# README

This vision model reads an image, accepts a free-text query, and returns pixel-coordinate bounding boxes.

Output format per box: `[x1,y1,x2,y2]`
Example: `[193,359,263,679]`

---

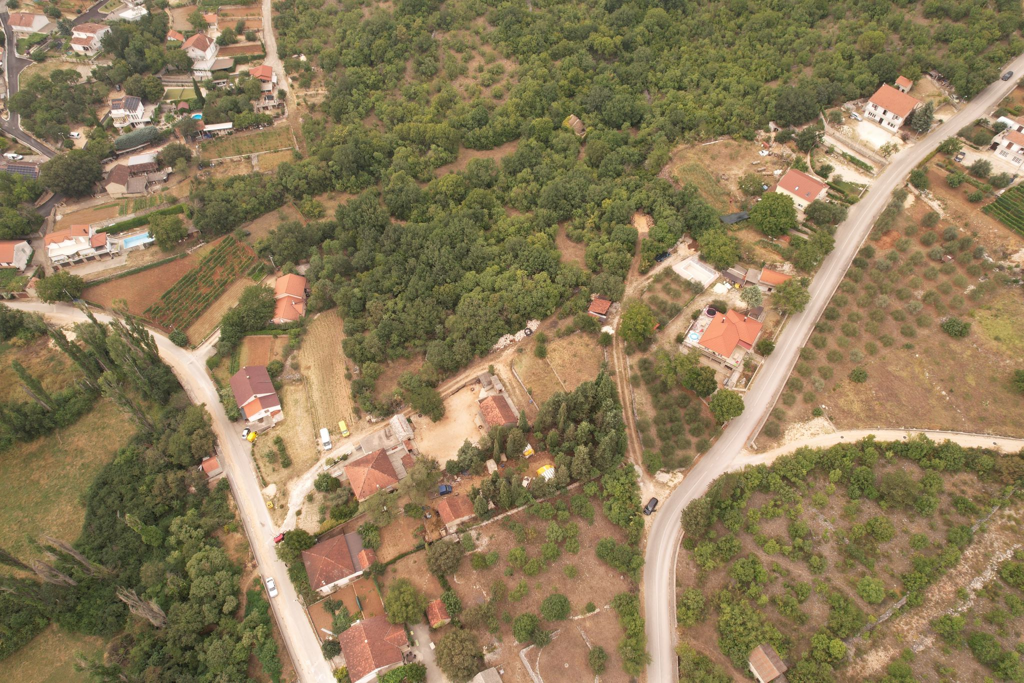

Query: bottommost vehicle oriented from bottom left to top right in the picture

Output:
[270,529,288,547]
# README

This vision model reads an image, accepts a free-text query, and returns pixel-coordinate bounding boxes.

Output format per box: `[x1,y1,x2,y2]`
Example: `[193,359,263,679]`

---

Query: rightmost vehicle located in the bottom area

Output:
[642,496,660,517]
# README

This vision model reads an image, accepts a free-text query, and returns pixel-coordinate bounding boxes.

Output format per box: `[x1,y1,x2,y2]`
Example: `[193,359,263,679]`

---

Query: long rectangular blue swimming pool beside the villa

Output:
[122,231,154,249]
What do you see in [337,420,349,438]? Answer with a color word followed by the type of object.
yellow vehicle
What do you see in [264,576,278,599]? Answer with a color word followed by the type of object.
white car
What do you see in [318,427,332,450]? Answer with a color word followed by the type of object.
white vehicle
